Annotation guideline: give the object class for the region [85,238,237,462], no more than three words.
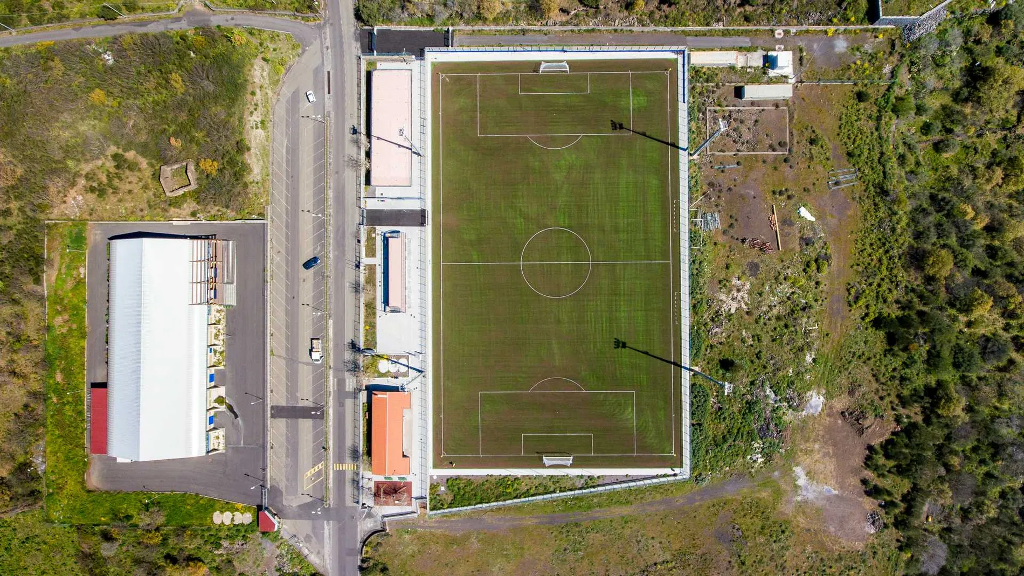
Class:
building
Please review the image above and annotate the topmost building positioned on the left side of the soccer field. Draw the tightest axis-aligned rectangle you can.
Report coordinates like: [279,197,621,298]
[370,69,413,188]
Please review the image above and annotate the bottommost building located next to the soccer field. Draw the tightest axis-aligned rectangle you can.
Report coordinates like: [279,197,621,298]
[372,391,412,476]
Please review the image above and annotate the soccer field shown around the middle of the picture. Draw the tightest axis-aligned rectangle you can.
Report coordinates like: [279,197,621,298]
[433,58,681,468]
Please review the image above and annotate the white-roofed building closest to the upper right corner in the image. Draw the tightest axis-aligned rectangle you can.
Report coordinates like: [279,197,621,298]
[766,51,793,77]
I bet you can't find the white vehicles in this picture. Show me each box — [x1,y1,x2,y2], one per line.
[305,89,316,104]
[311,339,322,362]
